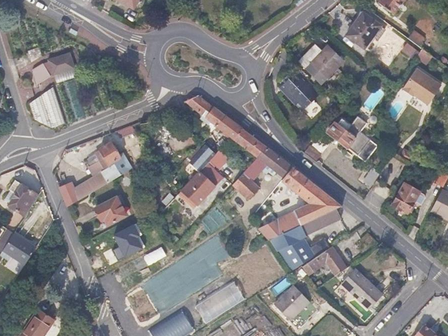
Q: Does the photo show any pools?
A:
Yes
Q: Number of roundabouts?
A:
1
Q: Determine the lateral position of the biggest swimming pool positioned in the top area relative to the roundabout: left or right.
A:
to the right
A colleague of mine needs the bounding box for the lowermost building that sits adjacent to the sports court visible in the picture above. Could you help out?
[148,307,194,336]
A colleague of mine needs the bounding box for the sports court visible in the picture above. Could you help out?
[142,234,228,312]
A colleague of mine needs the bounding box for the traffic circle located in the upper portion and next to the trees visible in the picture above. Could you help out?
[138,22,262,110]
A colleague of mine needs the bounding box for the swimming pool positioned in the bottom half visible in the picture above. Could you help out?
[270,276,292,296]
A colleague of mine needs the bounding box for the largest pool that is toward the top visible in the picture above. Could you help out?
[362,88,385,110]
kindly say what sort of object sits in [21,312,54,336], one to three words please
house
